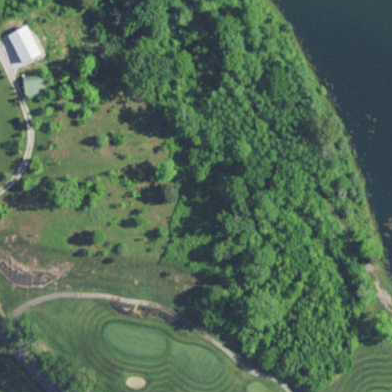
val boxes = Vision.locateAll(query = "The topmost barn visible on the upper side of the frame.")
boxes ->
[8,26,42,64]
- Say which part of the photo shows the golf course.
bottom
